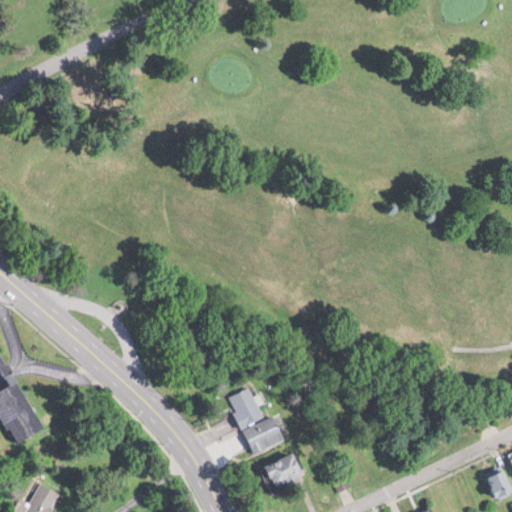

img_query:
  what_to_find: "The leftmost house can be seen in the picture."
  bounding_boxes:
[0,386,40,442]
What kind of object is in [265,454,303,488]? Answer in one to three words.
house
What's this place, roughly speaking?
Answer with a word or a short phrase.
golf course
